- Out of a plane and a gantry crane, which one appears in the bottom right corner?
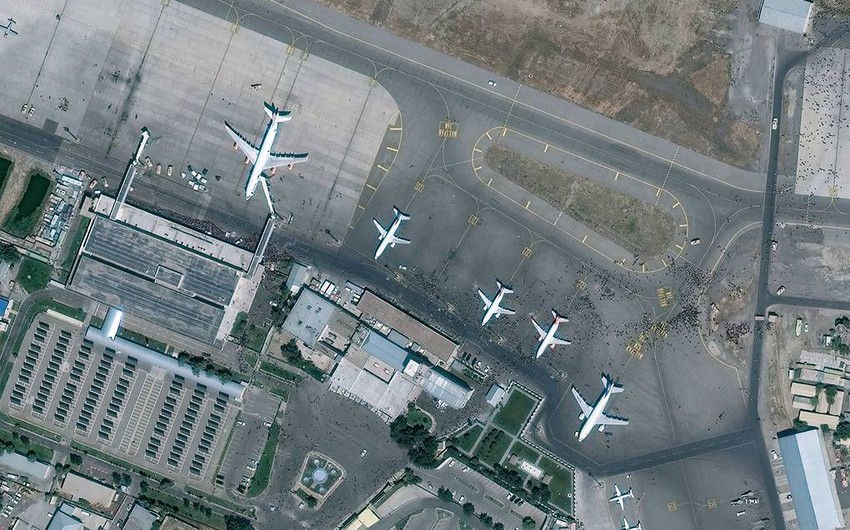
plane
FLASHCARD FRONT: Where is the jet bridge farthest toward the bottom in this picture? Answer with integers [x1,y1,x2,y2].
[246,174,277,277]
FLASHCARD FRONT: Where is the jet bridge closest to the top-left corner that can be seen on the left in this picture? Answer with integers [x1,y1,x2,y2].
[110,129,151,219]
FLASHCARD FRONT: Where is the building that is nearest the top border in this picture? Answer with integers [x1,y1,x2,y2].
[759,0,813,32]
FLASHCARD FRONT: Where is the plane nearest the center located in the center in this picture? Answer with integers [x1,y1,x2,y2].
[374,208,411,259]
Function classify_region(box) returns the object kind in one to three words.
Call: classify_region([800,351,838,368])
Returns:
house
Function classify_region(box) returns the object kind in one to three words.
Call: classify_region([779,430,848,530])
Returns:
hangar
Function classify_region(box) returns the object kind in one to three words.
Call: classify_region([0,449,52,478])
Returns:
building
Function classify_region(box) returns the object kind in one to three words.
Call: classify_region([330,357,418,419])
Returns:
building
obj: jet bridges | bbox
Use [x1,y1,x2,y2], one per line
[110,129,151,219]
[246,174,277,277]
